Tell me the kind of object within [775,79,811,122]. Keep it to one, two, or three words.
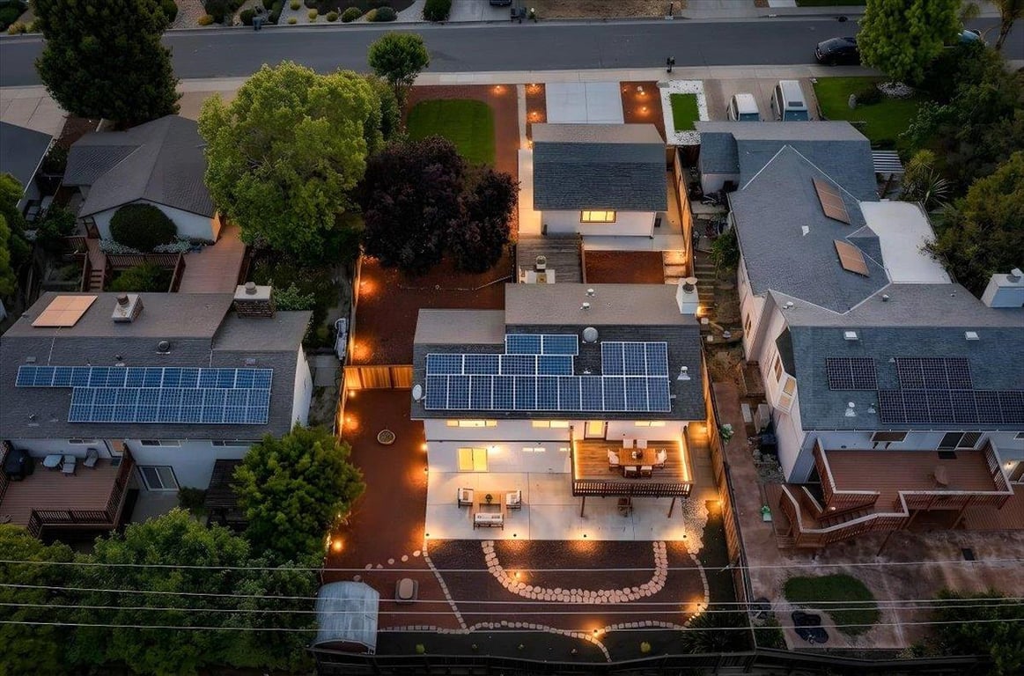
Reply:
van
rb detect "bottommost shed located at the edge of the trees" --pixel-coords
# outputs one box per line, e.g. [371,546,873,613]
[316,581,381,649]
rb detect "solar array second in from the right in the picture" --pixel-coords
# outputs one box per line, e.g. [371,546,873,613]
[424,334,672,411]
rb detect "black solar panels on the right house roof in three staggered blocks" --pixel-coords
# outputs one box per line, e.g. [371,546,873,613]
[827,357,1024,423]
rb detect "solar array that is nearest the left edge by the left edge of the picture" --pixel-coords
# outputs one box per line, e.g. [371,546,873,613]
[15,365,272,423]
